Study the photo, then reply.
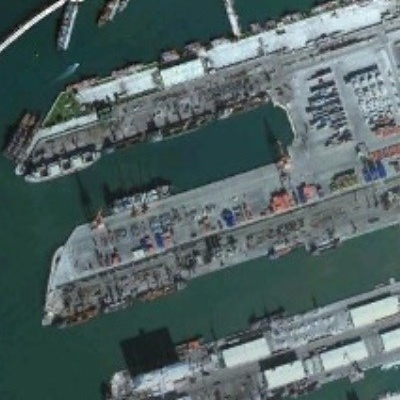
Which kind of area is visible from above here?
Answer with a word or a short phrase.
port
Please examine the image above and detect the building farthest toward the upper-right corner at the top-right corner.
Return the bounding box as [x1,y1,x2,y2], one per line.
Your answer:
[345,1,384,26]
